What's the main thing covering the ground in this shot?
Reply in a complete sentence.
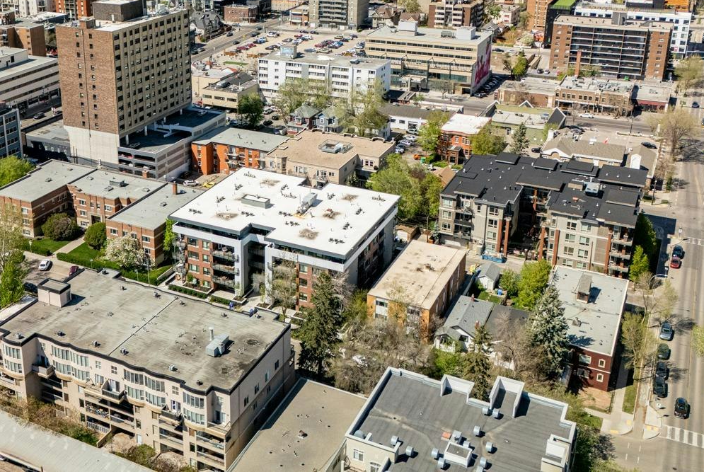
For the most part, this view shows buildings.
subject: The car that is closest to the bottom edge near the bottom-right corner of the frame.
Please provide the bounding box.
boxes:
[675,399,689,417]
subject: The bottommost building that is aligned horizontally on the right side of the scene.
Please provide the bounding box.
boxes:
[345,367,579,472]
